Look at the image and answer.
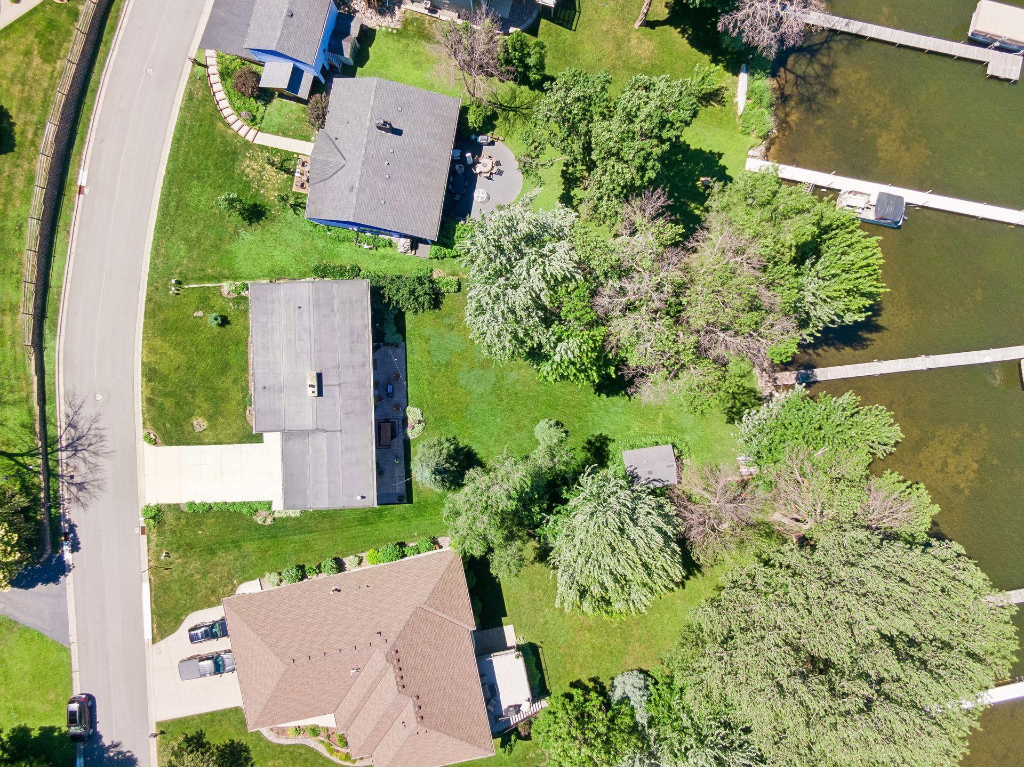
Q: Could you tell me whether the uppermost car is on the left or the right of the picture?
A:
left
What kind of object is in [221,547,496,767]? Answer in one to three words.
house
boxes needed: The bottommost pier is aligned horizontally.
[945,680,1024,713]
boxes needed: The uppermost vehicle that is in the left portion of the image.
[189,620,229,646]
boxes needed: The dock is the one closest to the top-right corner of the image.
[805,11,1024,83]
